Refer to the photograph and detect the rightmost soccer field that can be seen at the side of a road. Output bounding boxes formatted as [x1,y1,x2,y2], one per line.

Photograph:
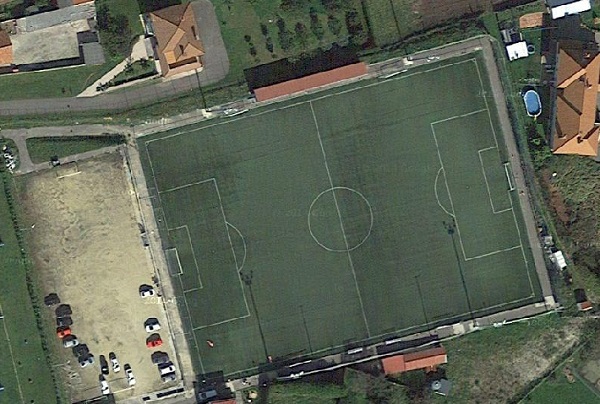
[136,50,543,386]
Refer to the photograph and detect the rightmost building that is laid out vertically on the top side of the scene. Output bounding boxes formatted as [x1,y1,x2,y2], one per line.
[547,47,600,156]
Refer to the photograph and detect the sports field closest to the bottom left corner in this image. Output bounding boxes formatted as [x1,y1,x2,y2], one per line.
[0,178,56,404]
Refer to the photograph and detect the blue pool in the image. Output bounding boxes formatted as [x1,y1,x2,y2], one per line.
[522,90,539,118]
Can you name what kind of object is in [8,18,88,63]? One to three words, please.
house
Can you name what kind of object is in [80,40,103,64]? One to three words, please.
building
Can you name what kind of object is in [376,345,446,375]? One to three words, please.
building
